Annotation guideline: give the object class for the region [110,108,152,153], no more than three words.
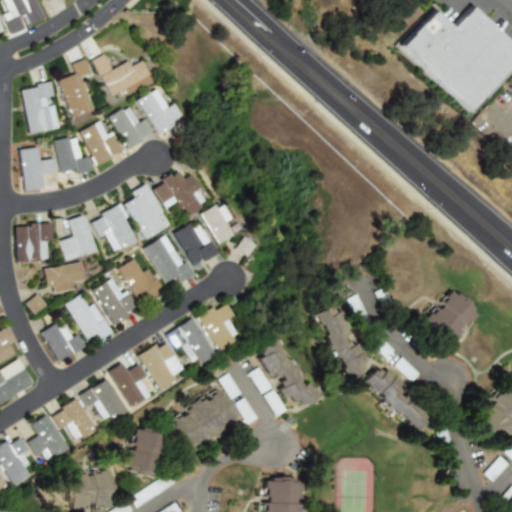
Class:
house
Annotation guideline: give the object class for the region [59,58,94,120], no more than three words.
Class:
house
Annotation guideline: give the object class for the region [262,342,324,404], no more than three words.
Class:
building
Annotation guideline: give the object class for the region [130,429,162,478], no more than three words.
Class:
building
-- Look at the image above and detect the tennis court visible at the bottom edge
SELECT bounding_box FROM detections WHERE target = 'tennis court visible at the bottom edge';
[334,457,376,512]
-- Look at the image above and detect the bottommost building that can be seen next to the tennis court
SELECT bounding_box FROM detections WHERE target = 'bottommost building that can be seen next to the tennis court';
[259,478,310,512]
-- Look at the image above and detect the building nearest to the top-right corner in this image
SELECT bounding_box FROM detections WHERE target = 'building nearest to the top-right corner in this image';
[404,6,512,112]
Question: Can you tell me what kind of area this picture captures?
residential area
